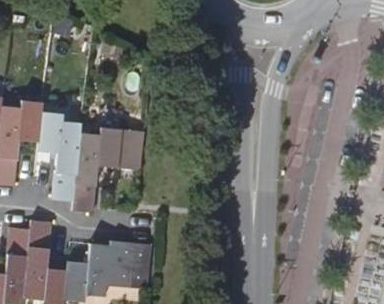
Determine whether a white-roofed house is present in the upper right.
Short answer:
No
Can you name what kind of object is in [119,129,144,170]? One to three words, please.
house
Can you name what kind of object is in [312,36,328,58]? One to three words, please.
car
